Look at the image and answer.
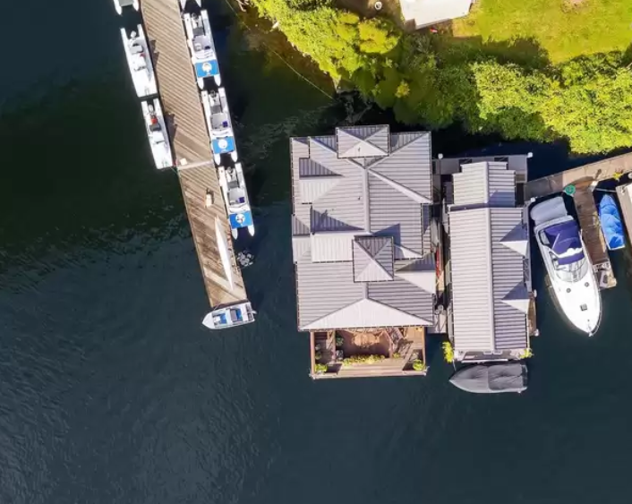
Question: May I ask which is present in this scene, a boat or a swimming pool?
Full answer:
Of the two, only a boat appears.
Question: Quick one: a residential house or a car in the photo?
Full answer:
Looking from above, you can make out a residential house.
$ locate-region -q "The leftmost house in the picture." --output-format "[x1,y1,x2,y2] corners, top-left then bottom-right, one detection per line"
[291,124,437,380]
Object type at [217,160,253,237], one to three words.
boat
